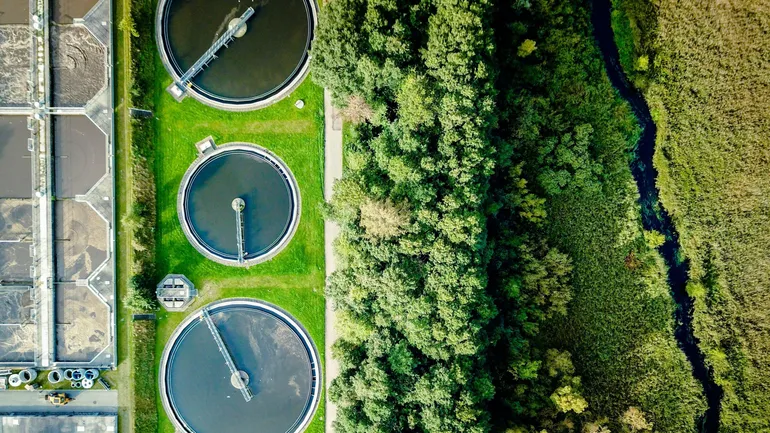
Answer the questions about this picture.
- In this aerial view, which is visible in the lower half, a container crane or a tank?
tank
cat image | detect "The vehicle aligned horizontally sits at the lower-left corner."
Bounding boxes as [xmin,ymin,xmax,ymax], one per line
[46,392,81,406]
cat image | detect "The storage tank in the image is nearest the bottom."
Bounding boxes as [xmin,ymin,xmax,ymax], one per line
[159,298,322,433]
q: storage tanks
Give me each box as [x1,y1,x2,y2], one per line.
[159,298,322,433]
[156,0,322,114]
[177,142,302,266]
